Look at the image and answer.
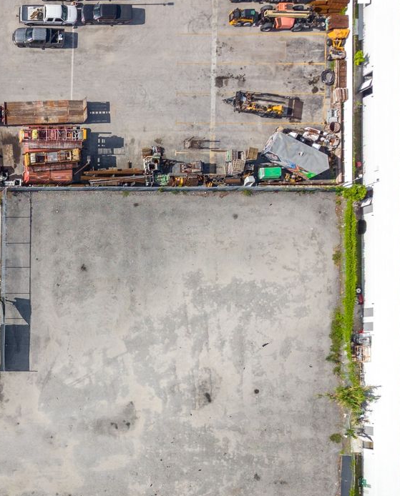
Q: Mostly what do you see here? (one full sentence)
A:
What you mostly see from above here is paved ground.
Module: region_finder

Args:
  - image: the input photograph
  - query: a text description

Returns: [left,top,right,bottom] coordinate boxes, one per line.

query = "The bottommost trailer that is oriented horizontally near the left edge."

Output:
[0,97,86,126]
